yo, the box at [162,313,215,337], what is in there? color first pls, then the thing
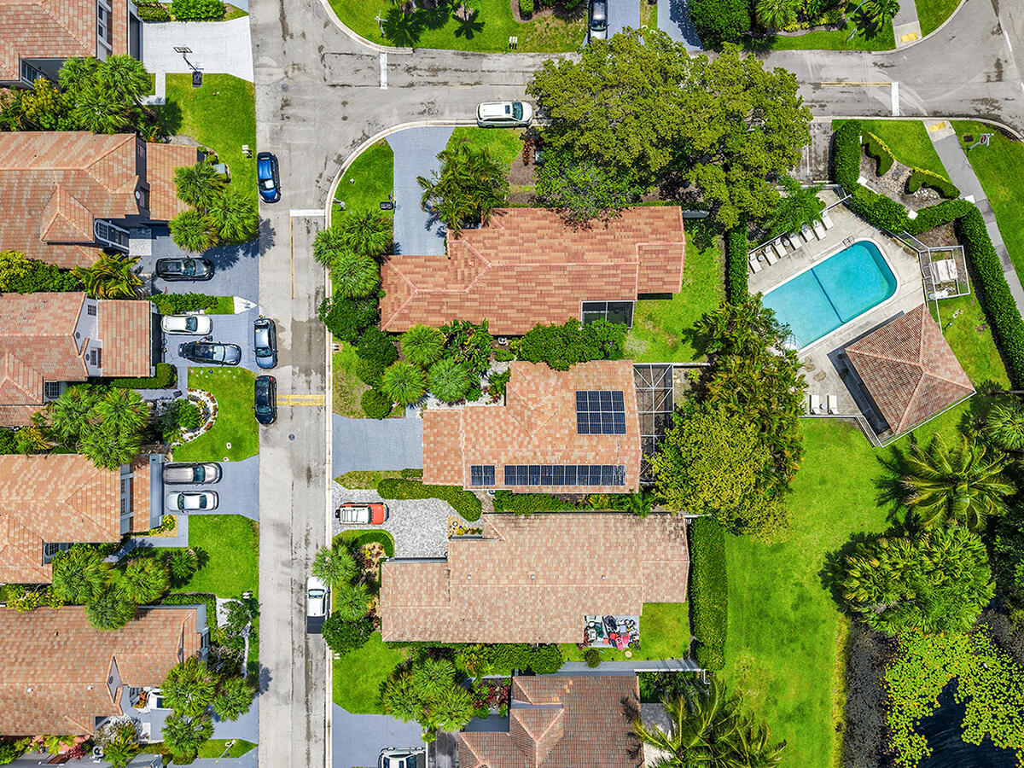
white car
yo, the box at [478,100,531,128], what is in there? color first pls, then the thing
white car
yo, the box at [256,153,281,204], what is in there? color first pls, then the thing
blue car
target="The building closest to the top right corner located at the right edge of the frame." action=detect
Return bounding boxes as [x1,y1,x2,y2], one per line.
[834,302,977,437]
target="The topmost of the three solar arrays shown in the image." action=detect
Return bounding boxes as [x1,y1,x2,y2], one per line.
[576,391,625,434]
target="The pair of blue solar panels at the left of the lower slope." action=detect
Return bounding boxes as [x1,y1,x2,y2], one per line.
[470,466,495,486]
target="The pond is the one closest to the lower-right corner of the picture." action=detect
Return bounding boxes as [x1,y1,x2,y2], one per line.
[872,622,1024,768]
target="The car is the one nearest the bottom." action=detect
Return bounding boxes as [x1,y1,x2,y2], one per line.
[378,748,428,768]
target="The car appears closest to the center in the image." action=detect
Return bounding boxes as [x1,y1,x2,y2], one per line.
[338,502,391,527]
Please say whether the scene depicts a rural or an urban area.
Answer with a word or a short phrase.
urban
